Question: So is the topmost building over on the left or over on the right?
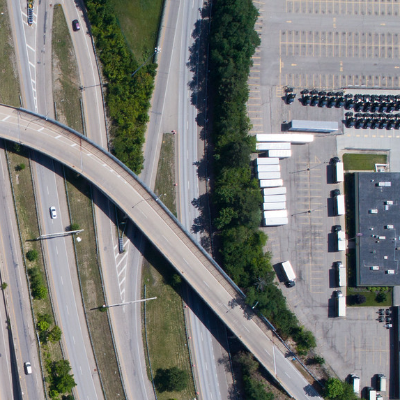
right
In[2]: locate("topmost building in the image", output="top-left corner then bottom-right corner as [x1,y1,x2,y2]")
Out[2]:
[348,162,400,286]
